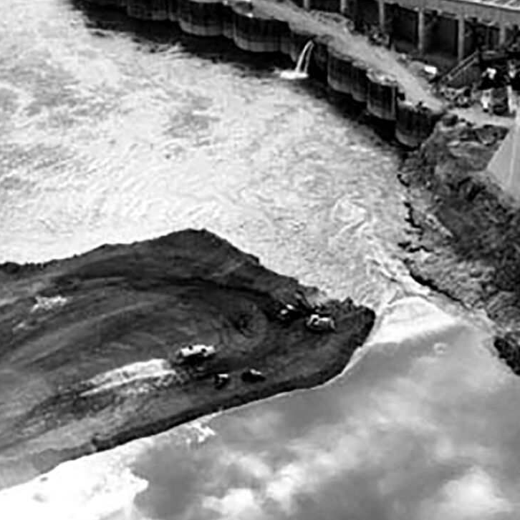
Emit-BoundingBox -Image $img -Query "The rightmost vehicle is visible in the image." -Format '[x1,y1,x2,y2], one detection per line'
[308,314,337,329]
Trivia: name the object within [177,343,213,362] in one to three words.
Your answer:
vehicle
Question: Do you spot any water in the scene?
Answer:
Yes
